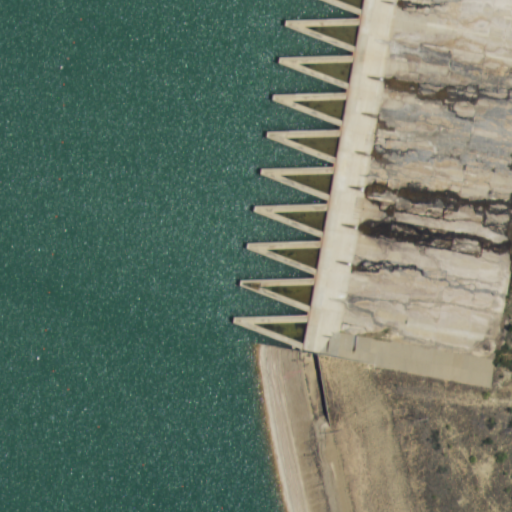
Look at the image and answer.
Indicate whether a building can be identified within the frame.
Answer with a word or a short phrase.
No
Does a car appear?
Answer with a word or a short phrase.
No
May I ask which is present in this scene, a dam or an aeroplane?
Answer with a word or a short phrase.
dam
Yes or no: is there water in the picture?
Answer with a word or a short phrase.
Yes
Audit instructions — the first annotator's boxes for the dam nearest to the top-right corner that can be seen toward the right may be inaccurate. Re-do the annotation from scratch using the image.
[234,0,397,354]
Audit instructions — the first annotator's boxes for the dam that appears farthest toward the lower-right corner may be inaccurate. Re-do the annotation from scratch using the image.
[256,344,412,512]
